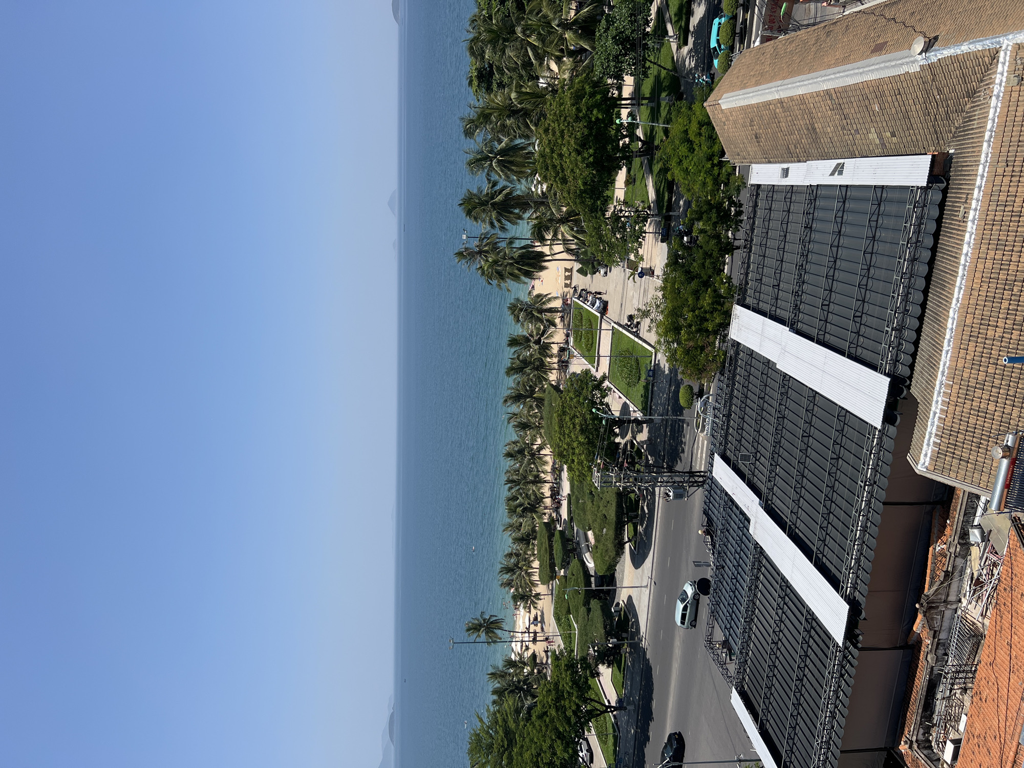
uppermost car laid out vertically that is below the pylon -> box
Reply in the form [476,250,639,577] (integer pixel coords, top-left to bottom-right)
[670,575,698,629]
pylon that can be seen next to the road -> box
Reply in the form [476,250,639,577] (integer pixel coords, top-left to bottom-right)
[592,465,721,494]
